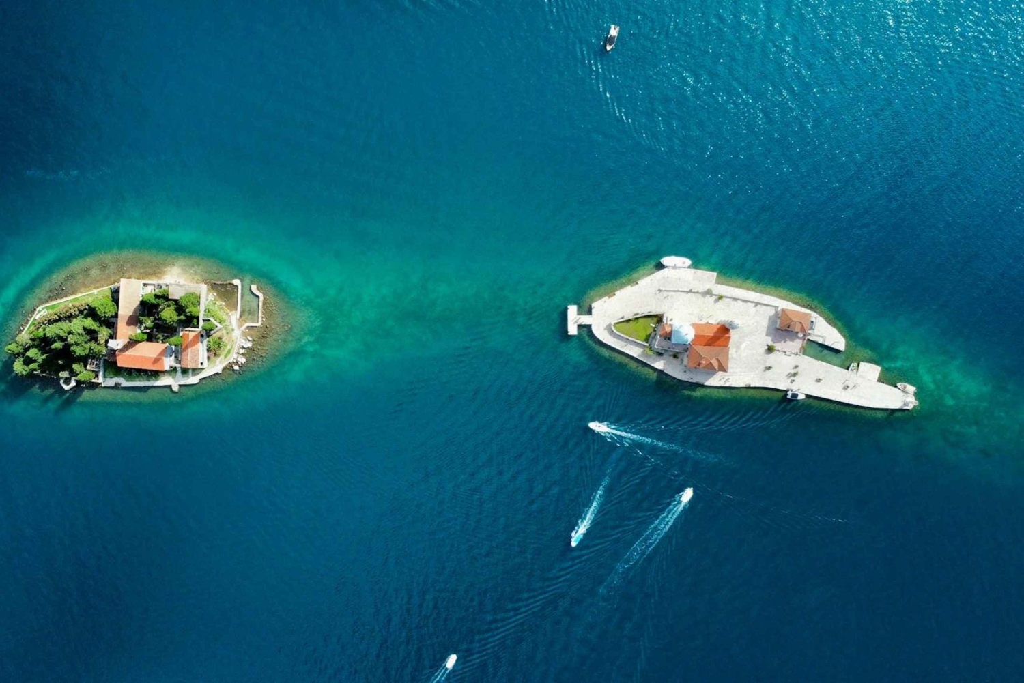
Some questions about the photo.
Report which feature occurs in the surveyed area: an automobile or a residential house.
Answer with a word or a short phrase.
residential house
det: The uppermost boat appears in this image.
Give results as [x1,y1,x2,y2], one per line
[606,24,618,52]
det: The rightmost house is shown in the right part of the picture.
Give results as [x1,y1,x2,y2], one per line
[777,308,812,334]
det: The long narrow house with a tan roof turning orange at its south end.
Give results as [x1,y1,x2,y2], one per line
[115,279,145,340]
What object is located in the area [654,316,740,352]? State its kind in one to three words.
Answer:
building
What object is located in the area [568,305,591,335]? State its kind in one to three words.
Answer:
pier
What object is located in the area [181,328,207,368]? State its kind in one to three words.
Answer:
house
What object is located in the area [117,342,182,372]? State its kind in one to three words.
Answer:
building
